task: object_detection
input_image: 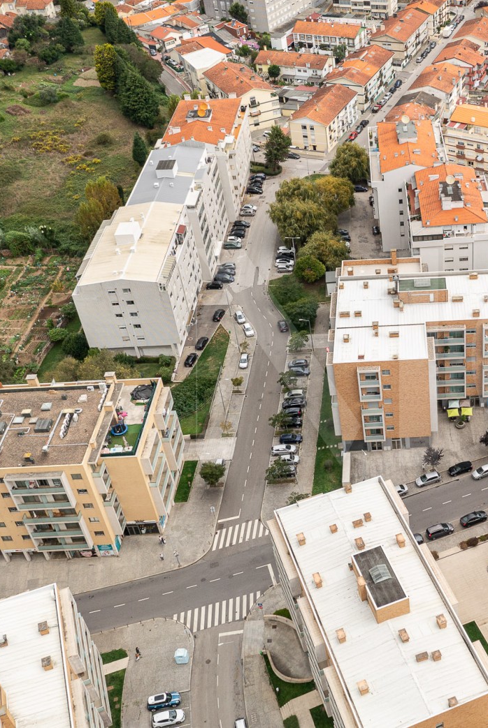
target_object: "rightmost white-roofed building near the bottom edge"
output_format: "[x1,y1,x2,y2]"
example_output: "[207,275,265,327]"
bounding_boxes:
[263,476,488,728]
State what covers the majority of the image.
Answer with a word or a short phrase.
buildings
